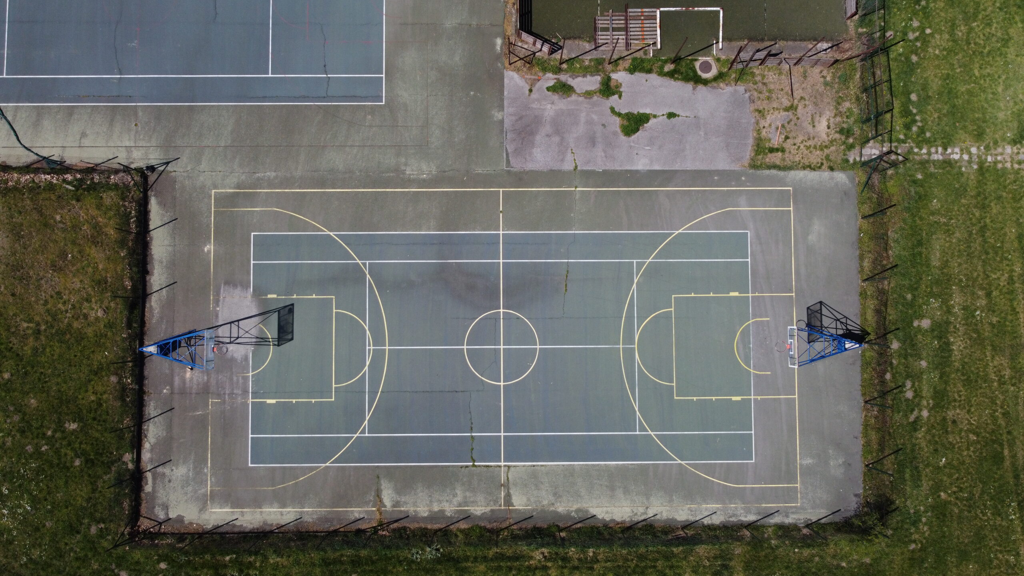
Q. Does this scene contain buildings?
No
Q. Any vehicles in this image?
No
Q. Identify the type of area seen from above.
sports ground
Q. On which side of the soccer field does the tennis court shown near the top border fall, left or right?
left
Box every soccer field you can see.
[519,0,850,59]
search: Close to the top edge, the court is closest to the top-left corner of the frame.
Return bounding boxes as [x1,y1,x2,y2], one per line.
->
[0,0,504,179]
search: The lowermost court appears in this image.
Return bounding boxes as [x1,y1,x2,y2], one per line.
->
[141,164,863,533]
